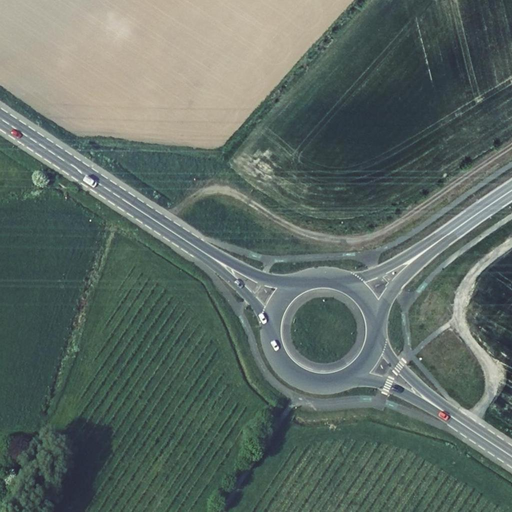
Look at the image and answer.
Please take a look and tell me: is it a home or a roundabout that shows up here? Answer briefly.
roundabout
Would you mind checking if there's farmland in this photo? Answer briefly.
Yes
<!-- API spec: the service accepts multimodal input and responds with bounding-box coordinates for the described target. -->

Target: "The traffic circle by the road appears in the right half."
[260,268,386,394]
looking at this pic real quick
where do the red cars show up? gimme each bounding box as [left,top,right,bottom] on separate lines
[439,411,450,420]
[10,128,21,137]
